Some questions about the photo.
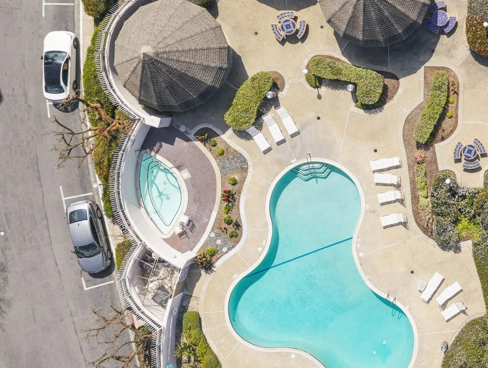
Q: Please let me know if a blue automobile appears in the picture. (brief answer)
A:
No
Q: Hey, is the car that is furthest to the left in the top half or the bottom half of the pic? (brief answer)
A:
top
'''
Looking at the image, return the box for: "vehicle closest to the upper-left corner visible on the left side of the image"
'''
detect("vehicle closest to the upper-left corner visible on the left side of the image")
[40,31,79,102]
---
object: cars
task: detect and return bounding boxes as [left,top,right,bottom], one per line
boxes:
[66,197,111,274]
[40,31,79,102]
